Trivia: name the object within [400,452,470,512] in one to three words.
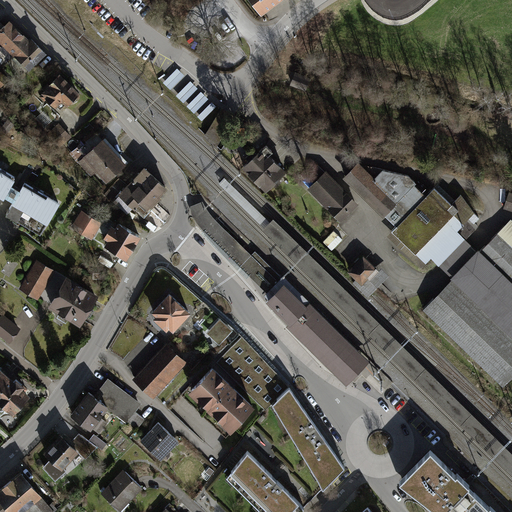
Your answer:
building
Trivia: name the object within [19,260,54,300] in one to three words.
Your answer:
house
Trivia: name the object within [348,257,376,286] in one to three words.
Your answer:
house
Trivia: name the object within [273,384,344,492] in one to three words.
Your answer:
building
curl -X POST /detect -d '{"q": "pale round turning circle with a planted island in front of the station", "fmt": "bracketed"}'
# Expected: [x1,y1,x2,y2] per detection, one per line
[346,408,414,476]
